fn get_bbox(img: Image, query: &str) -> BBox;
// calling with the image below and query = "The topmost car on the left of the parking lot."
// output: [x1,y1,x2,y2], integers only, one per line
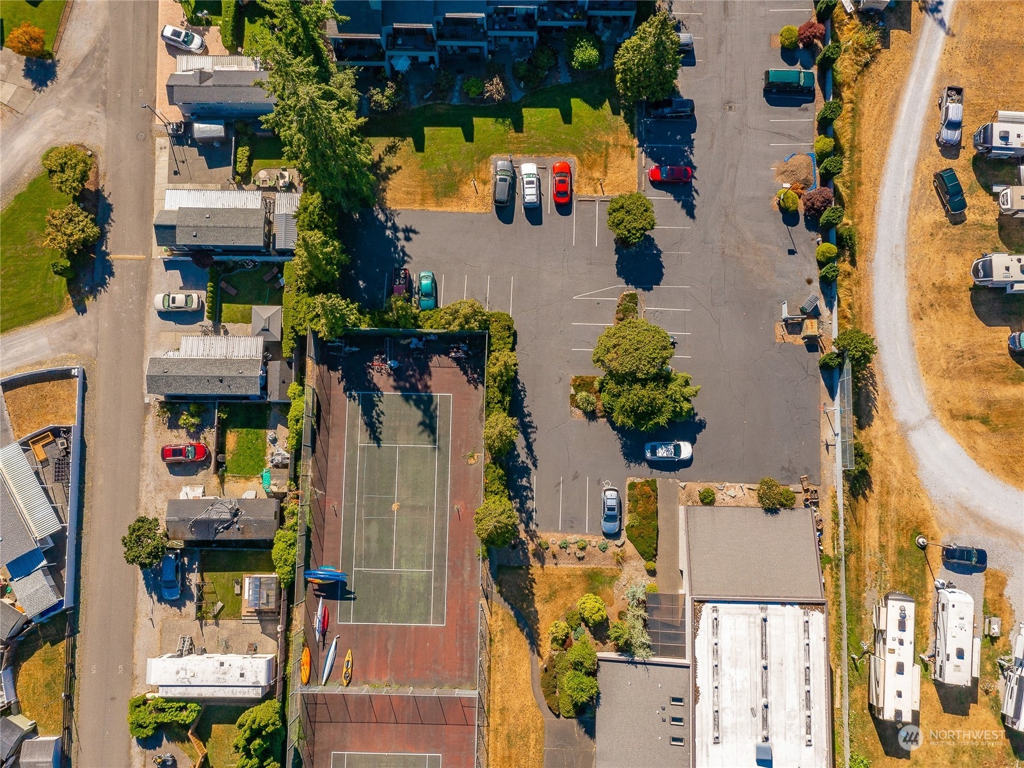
[162,27,208,57]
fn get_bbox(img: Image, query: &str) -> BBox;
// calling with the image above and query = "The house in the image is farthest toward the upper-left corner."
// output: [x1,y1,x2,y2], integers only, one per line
[164,70,283,113]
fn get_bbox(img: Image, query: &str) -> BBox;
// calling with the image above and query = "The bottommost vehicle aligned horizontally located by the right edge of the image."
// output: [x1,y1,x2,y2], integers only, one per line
[937,547,985,569]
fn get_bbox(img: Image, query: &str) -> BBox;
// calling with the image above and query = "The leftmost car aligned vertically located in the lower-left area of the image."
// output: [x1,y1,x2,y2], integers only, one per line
[159,549,186,599]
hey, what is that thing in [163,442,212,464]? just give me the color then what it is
red car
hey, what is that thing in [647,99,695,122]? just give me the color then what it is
black car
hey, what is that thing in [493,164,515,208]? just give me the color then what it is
gray car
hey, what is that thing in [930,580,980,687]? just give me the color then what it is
white trailer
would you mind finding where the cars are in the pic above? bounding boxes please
[929,167,965,215]
[647,164,693,185]
[163,442,212,464]
[162,27,208,57]
[600,485,623,535]
[157,292,205,313]
[159,549,186,599]
[647,99,695,122]
[760,70,813,94]
[937,547,985,569]
[1009,334,1024,352]
[519,167,541,210]
[643,440,692,462]
[551,164,573,205]
[493,164,515,208]
[416,271,437,309]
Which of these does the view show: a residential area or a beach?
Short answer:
residential area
